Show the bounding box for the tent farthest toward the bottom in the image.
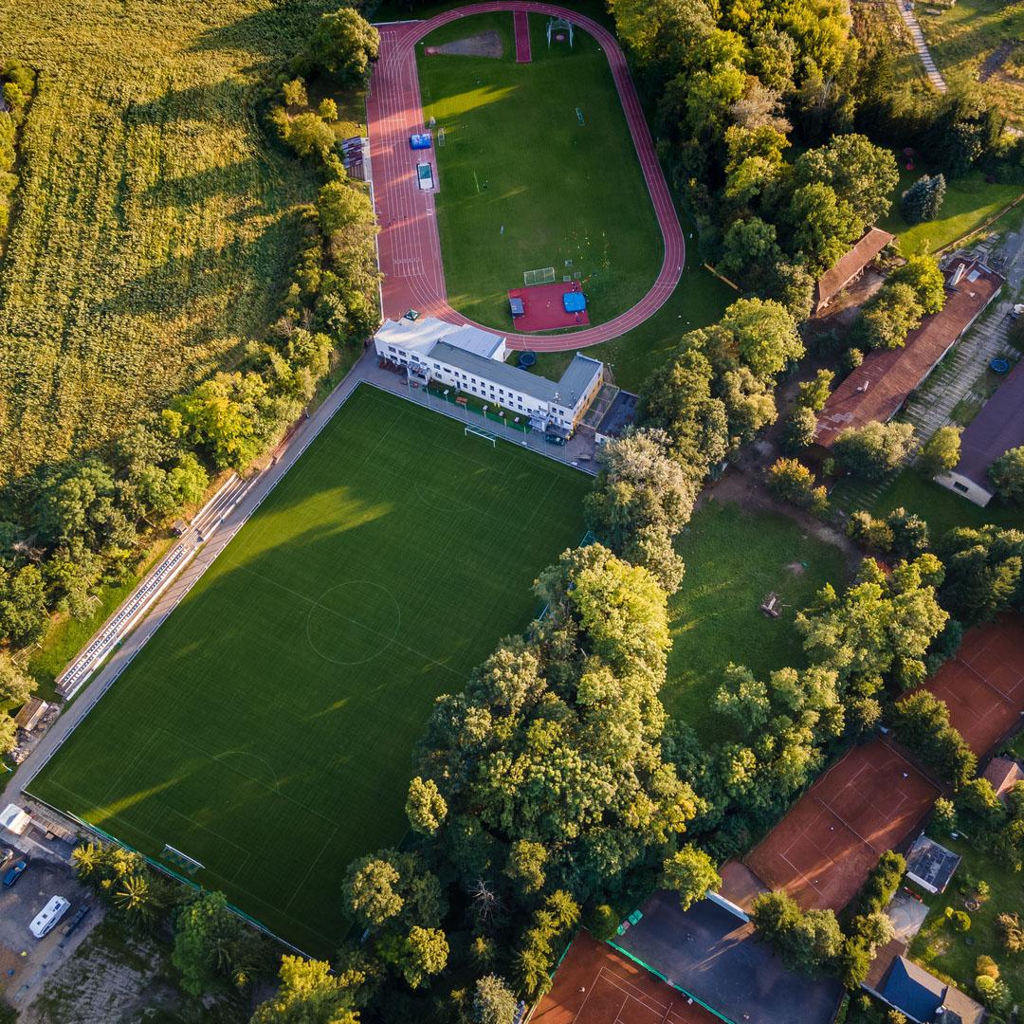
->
[0,804,37,838]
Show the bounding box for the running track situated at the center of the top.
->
[364,4,690,350]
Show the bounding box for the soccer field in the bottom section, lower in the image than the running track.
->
[27,383,606,964]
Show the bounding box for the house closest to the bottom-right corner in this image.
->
[879,957,992,1024]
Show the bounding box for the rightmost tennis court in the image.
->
[894,609,1024,761]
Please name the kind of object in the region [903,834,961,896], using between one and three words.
shed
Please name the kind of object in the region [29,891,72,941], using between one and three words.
van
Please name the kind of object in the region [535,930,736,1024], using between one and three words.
tennis court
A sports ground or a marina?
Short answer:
sports ground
